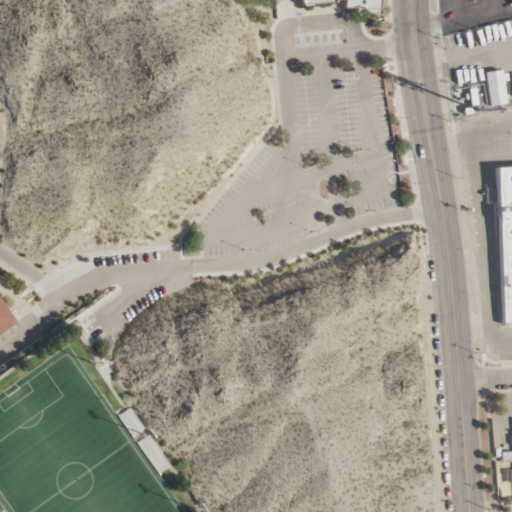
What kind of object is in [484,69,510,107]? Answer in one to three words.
shed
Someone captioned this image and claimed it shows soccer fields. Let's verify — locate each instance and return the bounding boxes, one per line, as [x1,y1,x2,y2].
[0,346,186,512]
